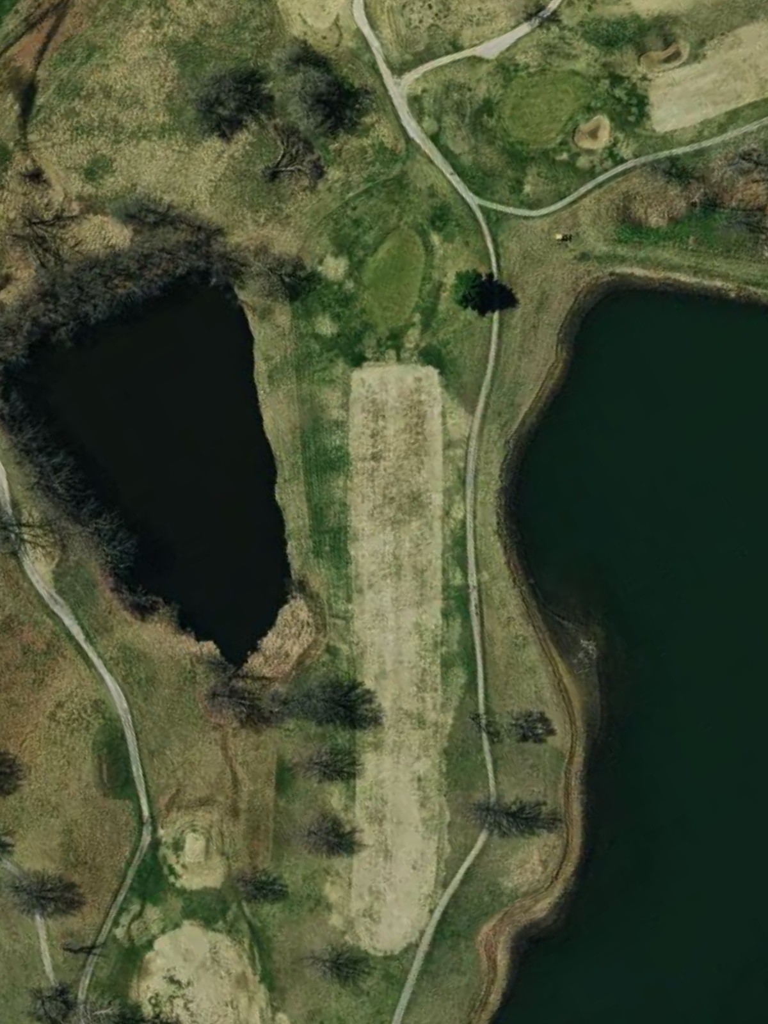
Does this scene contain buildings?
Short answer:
No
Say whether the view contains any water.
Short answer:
Yes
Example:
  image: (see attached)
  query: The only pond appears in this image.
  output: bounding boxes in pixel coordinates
[2,274,291,667]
